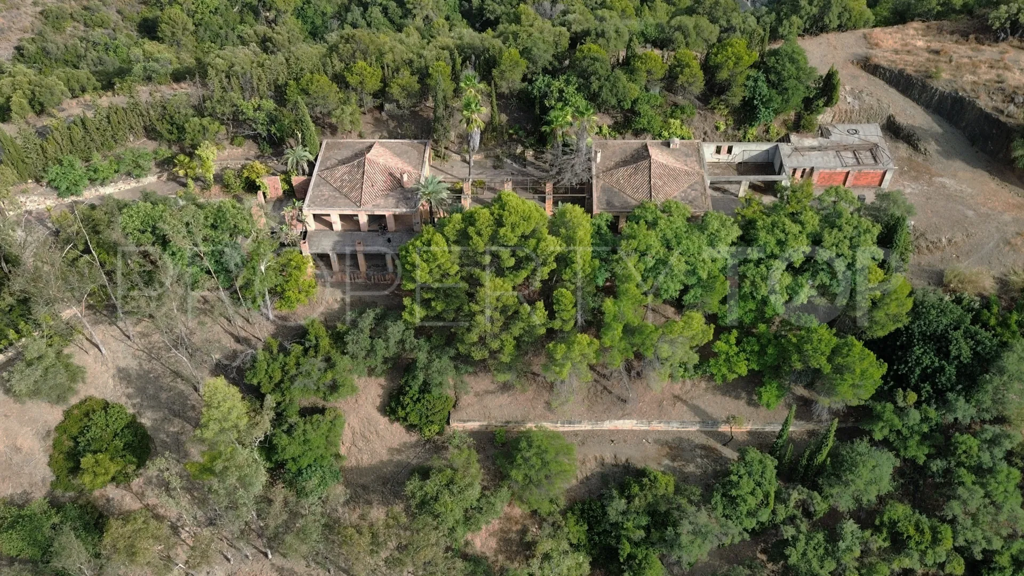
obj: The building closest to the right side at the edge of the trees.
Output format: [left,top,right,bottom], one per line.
[776,124,902,195]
